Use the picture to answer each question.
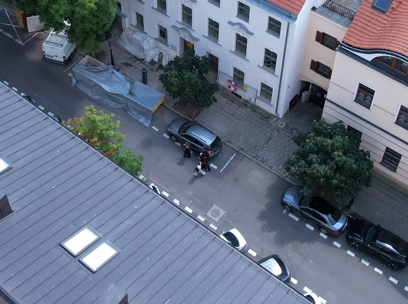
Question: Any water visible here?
No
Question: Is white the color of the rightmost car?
No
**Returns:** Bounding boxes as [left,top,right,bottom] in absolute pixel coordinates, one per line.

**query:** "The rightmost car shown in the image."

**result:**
[345,218,408,275]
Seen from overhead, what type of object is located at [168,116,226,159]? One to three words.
car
